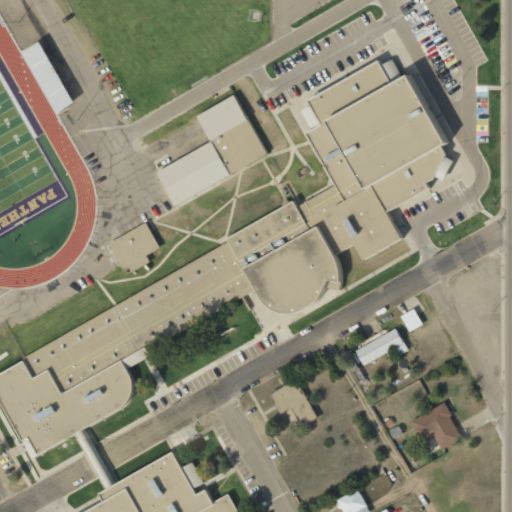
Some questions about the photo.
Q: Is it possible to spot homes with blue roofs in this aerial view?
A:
No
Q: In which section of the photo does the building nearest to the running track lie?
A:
left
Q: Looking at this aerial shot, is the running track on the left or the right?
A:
left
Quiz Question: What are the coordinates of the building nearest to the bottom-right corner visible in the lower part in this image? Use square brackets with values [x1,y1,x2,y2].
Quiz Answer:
[412,406,464,452]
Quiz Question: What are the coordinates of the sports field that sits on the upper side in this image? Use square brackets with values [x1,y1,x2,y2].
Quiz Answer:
[0,54,76,266]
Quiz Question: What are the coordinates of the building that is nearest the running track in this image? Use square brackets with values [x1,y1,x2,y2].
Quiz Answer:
[110,223,161,272]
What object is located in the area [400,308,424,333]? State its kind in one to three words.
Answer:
building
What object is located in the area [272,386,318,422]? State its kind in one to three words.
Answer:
house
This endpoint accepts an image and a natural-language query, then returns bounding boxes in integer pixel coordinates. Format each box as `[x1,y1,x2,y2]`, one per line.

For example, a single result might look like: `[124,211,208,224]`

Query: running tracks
[0,8,98,288]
